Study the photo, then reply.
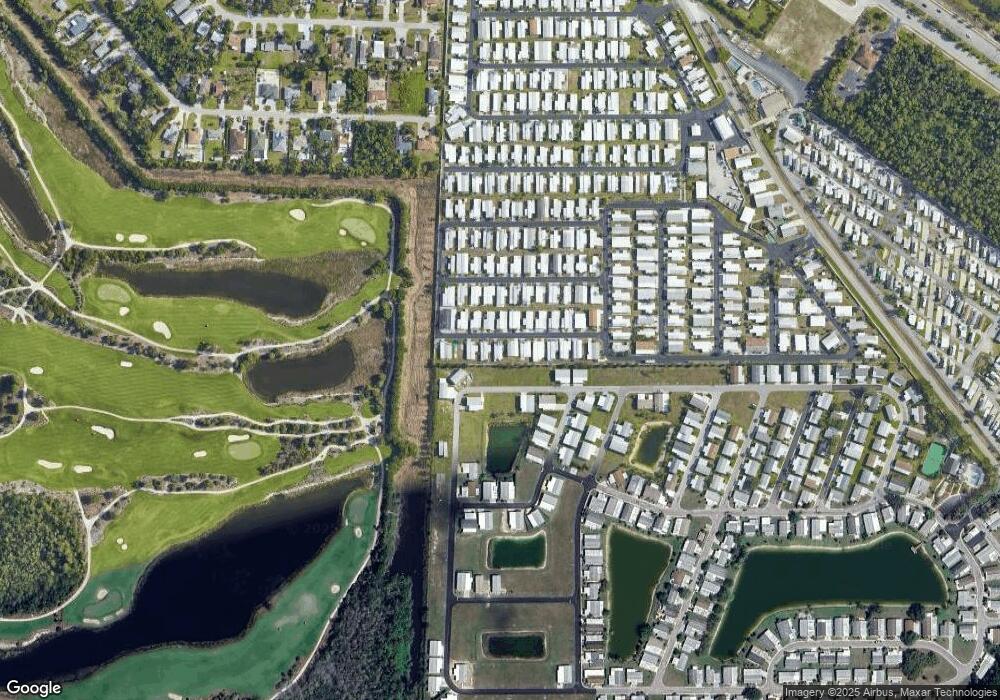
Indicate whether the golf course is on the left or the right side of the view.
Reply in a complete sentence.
The golf course is on the left side of the image.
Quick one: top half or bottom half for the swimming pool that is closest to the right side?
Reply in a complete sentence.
The bottom half of the photo is where the swimming pool that is closest to the right side is.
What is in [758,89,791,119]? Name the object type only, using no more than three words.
building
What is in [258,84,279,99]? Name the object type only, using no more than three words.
house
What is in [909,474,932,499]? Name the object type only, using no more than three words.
house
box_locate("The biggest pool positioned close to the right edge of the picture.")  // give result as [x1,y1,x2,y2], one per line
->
[964,464,985,486]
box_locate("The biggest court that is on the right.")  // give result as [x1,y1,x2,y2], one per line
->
[922,442,946,476]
